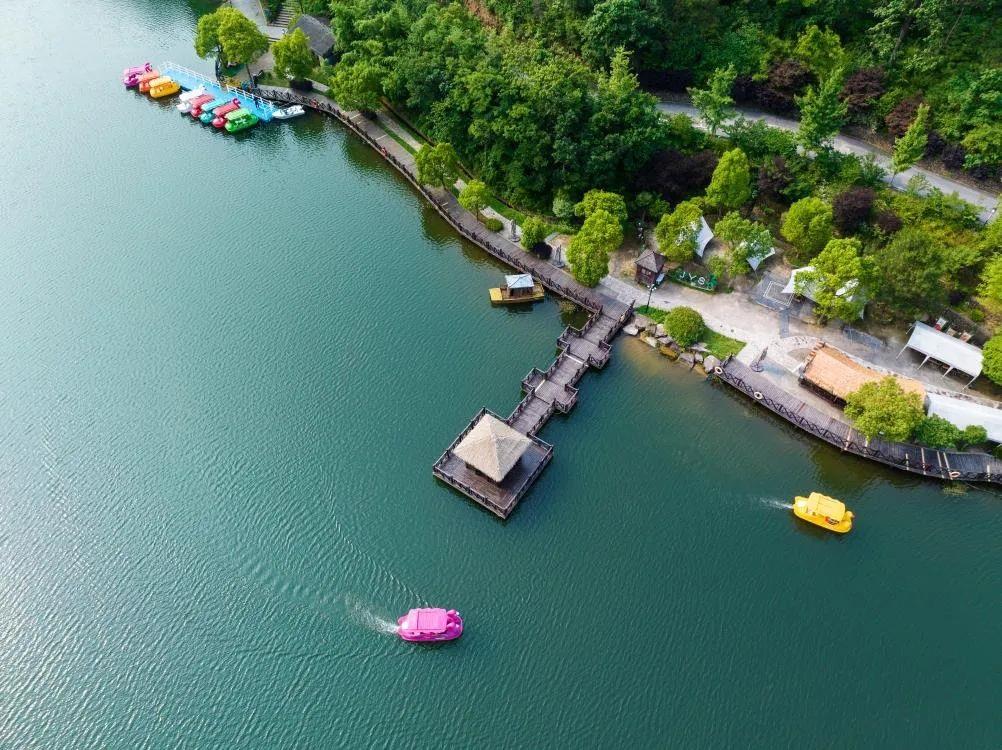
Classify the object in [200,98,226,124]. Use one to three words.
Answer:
boat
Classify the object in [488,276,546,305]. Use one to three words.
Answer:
boat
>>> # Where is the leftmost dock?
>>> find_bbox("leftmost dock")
[159,59,275,123]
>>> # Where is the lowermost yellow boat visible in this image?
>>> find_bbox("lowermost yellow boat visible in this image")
[793,495,860,534]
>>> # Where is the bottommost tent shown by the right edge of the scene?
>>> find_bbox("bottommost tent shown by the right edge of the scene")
[897,320,982,392]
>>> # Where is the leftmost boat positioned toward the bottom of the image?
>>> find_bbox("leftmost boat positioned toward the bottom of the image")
[396,608,465,645]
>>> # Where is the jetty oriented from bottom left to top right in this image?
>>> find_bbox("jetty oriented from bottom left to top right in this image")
[434,299,635,520]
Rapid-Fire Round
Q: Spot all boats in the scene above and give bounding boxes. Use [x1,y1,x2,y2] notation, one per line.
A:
[148,76,182,101]
[175,82,202,113]
[488,276,546,305]
[134,70,163,95]
[226,107,258,133]
[188,93,215,118]
[119,62,146,91]
[396,608,465,645]
[268,102,307,121]
[793,495,860,534]
[211,96,240,127]
[200,98,226,124]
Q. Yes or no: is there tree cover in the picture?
Yes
